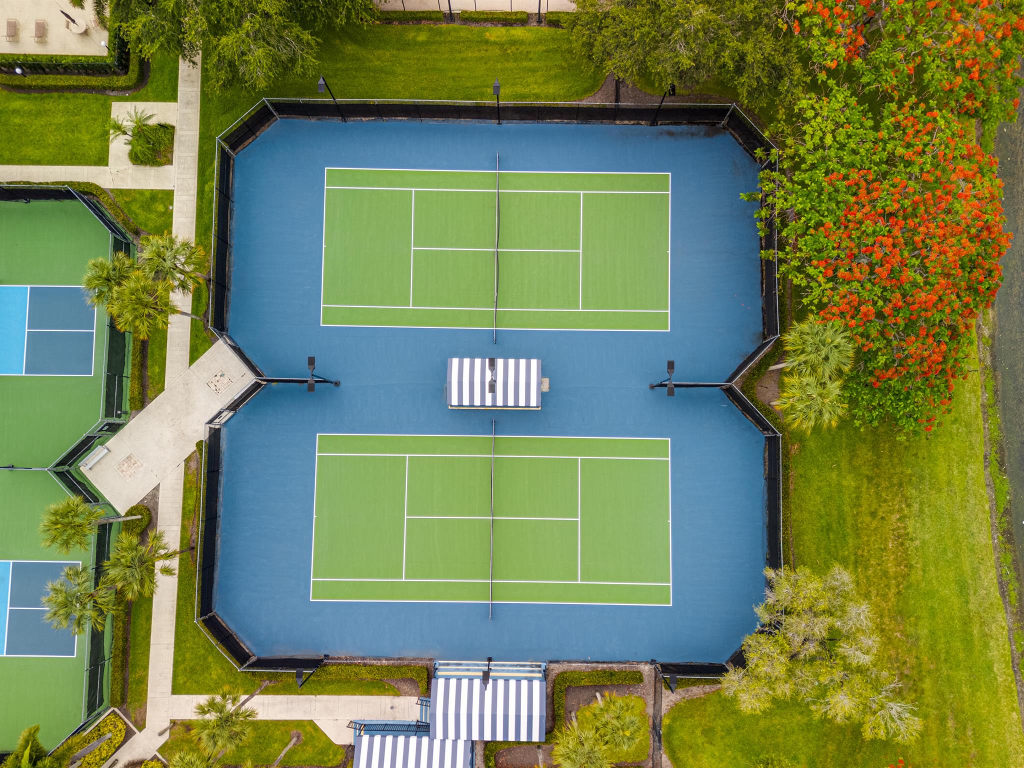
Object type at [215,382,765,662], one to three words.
tennis court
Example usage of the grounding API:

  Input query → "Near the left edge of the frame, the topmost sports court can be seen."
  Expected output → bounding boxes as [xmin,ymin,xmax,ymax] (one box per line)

[0,205,130,468]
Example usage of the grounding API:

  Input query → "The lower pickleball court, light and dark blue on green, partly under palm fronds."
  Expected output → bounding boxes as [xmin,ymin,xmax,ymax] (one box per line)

[0,469,116,747]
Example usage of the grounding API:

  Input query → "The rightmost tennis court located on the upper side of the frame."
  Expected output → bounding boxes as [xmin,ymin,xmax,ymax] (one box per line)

[229,119,762,388]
